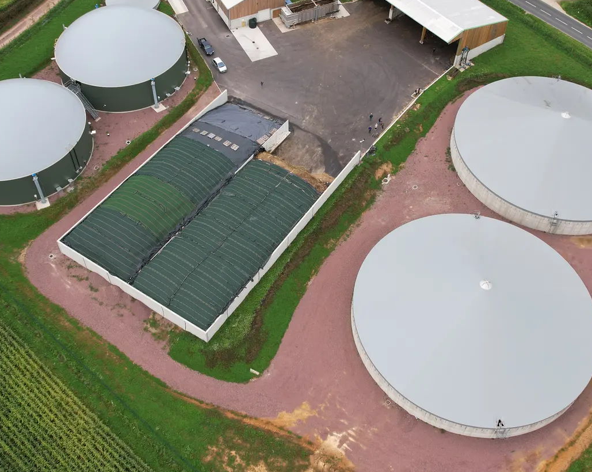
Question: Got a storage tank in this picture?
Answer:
Yes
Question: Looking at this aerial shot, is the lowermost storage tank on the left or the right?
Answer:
right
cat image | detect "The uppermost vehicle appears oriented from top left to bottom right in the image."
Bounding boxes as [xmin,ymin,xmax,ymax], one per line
[196,36,216,55]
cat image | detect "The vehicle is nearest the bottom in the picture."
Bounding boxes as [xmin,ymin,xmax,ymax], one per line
[212,57,228,73]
